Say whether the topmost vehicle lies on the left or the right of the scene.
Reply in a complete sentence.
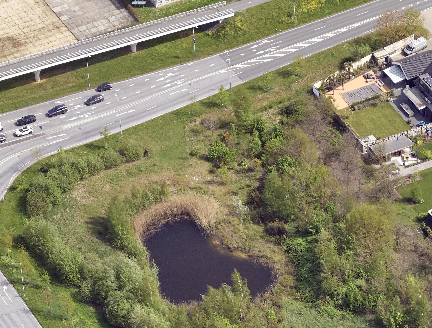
It is on the right.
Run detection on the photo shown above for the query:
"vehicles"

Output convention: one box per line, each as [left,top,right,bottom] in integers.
[86,93,104,105]
[16,113,37,126]
[403,34,429,55]
[94,80,115,93]
[0,134,7,142]
[47,103,67,116]
[14,124,35,137]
